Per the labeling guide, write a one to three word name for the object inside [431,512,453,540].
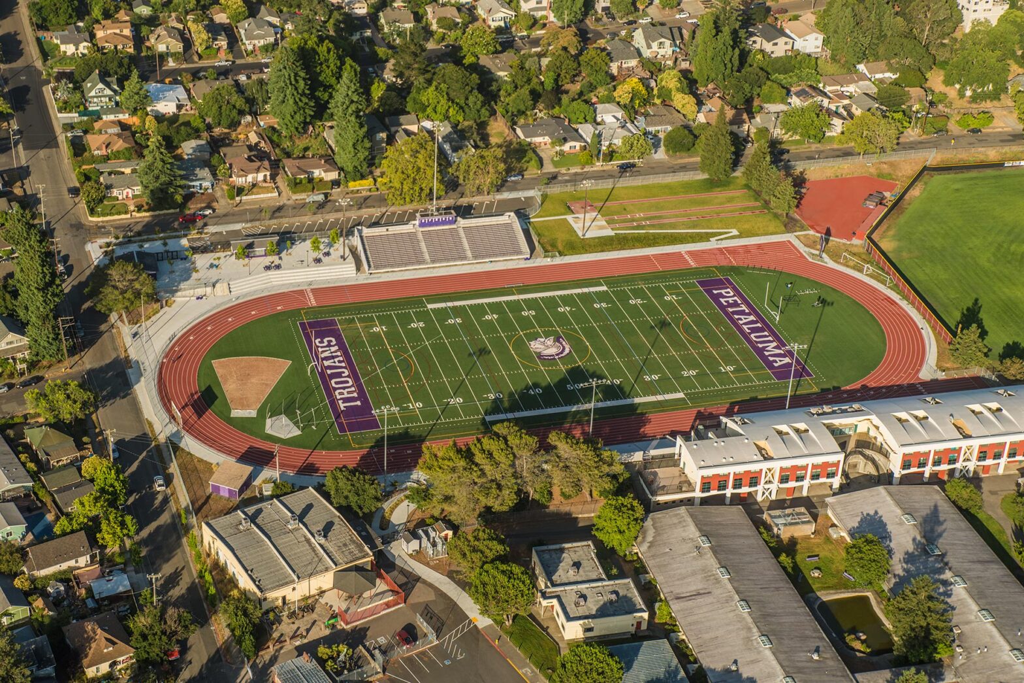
shed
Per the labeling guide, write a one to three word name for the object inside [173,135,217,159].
house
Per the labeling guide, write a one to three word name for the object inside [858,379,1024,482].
building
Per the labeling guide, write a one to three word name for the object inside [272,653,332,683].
building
